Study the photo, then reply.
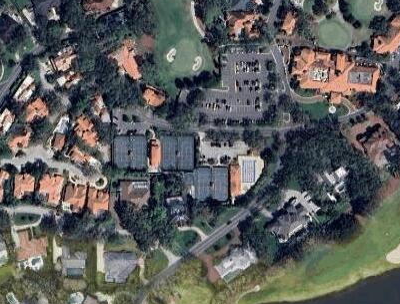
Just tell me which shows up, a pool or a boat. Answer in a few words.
pool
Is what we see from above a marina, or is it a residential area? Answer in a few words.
residential area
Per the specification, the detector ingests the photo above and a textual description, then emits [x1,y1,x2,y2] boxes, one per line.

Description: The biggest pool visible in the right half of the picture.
[238,155,263,195]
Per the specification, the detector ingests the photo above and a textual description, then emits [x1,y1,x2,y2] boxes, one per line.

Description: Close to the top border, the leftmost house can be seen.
[0,8,37,50]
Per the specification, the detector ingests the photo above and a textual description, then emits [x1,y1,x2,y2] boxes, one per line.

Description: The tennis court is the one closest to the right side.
[211,166,228,199]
